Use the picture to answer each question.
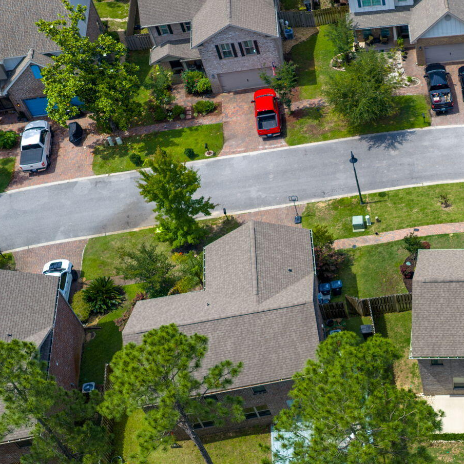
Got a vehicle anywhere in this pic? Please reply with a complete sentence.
Yes, there's a vehicle down there.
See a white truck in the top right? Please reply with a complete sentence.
No, there is no white truck in the top right.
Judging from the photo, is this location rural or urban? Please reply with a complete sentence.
The area is urban.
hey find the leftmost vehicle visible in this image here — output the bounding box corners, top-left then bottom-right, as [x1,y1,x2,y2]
[20,120,57,172]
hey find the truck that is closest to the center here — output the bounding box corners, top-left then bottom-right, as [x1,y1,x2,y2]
[252,89,282,138]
